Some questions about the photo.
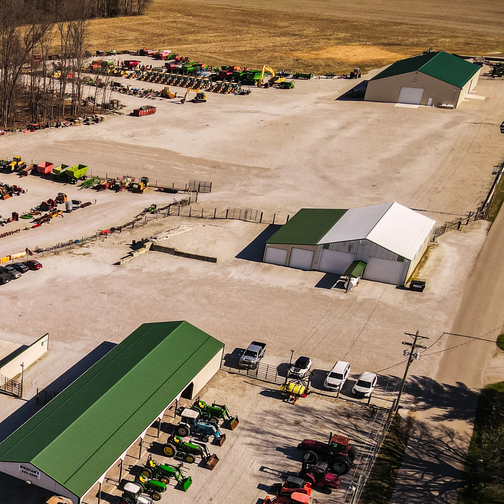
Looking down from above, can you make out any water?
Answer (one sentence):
No, no water is visible.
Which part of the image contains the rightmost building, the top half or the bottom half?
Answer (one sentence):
You can find the rightmost building in the top half.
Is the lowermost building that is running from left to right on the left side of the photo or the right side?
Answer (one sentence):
The lowermost building that is running from left to right appears in the right half of the scene.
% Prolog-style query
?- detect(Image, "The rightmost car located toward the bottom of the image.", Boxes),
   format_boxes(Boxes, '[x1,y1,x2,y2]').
[352,368,380,394]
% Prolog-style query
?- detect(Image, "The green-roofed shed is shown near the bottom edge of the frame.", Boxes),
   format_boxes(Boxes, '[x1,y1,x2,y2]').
[0,318,226,504]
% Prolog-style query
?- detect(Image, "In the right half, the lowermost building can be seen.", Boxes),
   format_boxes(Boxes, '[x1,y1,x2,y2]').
[263,201,436,286]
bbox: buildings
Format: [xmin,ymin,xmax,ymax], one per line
[364,51,481,108]
[0,318,226,504]
[263,201,436,286]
